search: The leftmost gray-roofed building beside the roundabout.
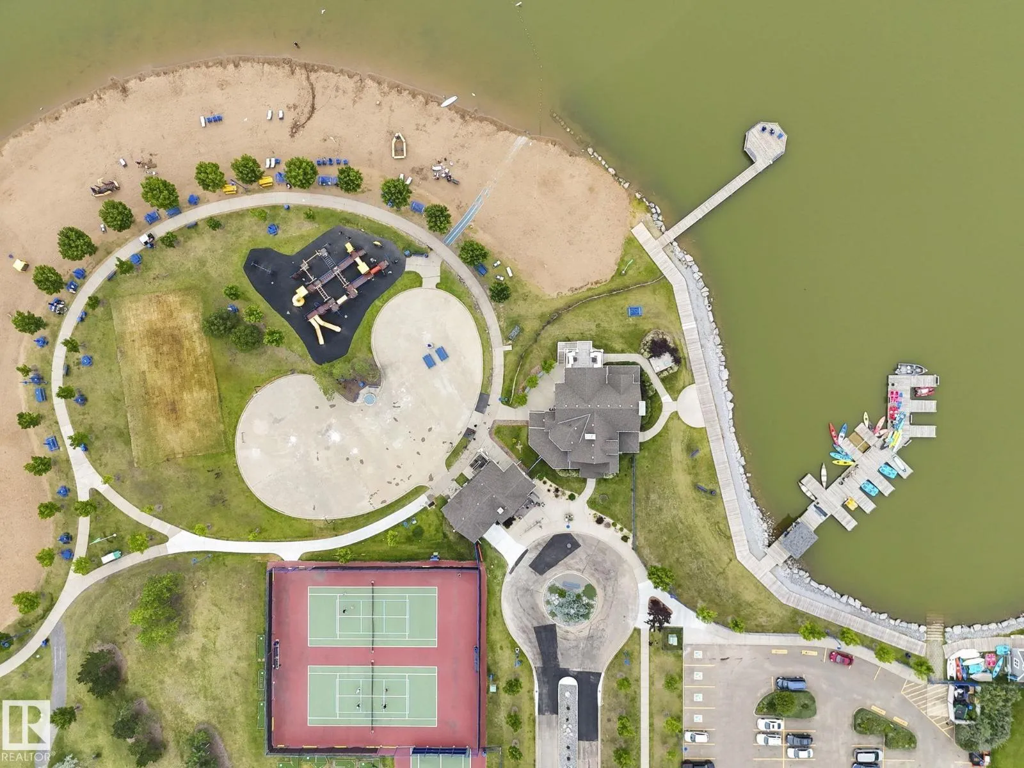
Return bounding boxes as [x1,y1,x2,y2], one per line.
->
[440,461,536,543]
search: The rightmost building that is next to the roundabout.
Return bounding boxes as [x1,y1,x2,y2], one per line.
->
[528,365,646,480]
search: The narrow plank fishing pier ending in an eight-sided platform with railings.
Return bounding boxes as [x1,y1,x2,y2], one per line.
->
[657,121,788,248]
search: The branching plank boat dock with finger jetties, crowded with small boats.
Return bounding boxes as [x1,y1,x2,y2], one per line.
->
[761,376,939,570]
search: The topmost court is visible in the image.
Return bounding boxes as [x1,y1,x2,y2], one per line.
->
[235,286,483,520]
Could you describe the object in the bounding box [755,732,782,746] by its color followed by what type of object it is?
white car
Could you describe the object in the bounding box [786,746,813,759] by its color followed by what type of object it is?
white vehicle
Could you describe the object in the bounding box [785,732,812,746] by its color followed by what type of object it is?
gray car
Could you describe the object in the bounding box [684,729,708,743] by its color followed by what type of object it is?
white car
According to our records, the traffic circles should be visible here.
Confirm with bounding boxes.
[502,533,637,768]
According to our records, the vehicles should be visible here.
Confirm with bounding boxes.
[827,650,855,666]
[755,732,782,746]
[139,232,158,246]
[851,762,880,768]
[786,746,813,759]
[776,675,807,690]
[683,760,714,768]
[684,729,708,743]
[756,717,783,731]
[853,747,883,763]
[785,732,812,746]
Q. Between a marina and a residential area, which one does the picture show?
marina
